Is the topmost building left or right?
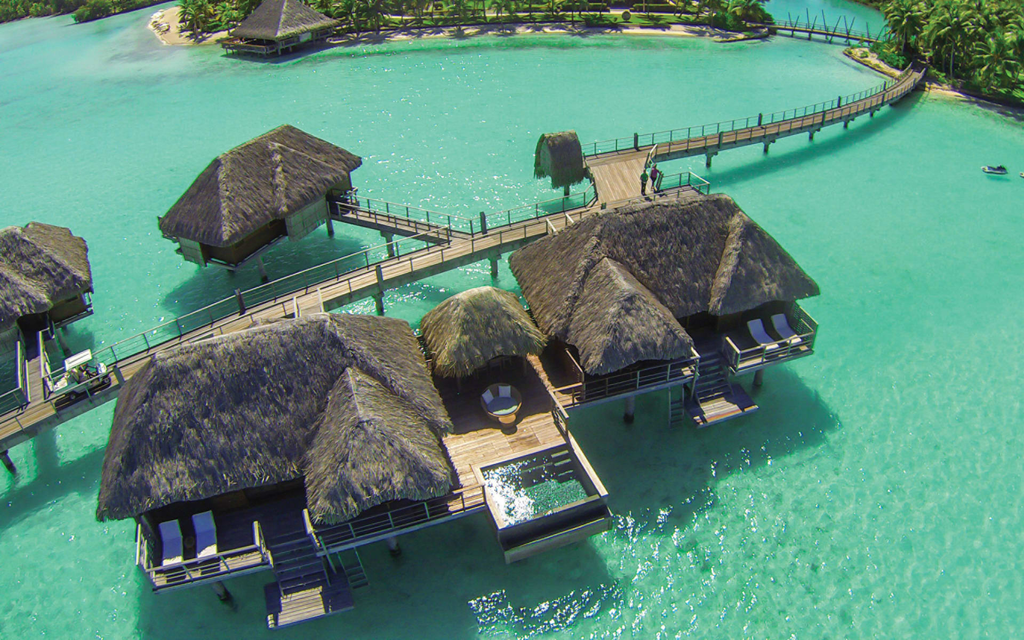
left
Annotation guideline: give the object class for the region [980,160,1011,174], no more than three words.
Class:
boat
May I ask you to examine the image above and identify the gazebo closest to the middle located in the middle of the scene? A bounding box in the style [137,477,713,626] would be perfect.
[418,283,549,401]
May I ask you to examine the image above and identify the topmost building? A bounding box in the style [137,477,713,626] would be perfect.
[218,0,343,67]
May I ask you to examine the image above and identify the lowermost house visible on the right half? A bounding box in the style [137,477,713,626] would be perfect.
[508,193,822,442]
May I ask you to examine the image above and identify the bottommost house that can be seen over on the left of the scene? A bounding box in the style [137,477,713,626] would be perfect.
[92,310,484,640]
